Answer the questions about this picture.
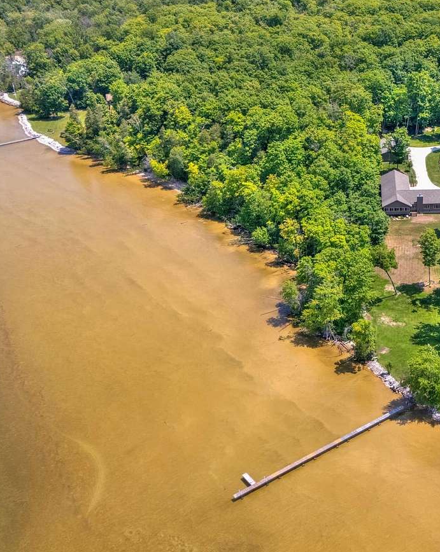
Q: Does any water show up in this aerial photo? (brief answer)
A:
Yes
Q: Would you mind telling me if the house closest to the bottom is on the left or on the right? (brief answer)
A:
right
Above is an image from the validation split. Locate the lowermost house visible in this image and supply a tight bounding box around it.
[380,168,440,217]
